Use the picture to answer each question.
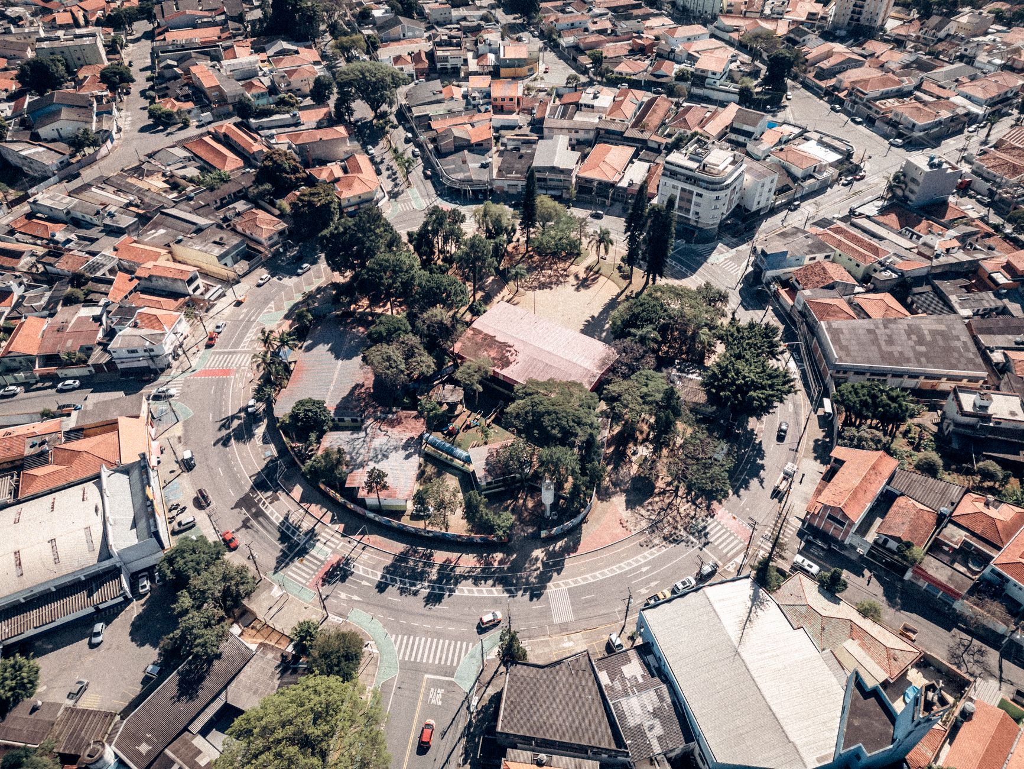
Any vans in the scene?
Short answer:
Yes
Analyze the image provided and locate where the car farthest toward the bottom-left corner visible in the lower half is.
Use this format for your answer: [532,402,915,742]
[59,671,94,707]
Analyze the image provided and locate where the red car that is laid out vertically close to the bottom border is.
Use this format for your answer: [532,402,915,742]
[417,717,436,750]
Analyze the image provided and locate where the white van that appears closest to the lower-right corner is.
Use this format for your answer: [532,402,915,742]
[788,546,824,578]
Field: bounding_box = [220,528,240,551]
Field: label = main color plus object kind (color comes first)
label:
red car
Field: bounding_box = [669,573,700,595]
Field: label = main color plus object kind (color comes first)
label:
white car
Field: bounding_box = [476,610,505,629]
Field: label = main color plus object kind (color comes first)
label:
white car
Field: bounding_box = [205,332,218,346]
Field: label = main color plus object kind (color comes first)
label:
red vehicle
